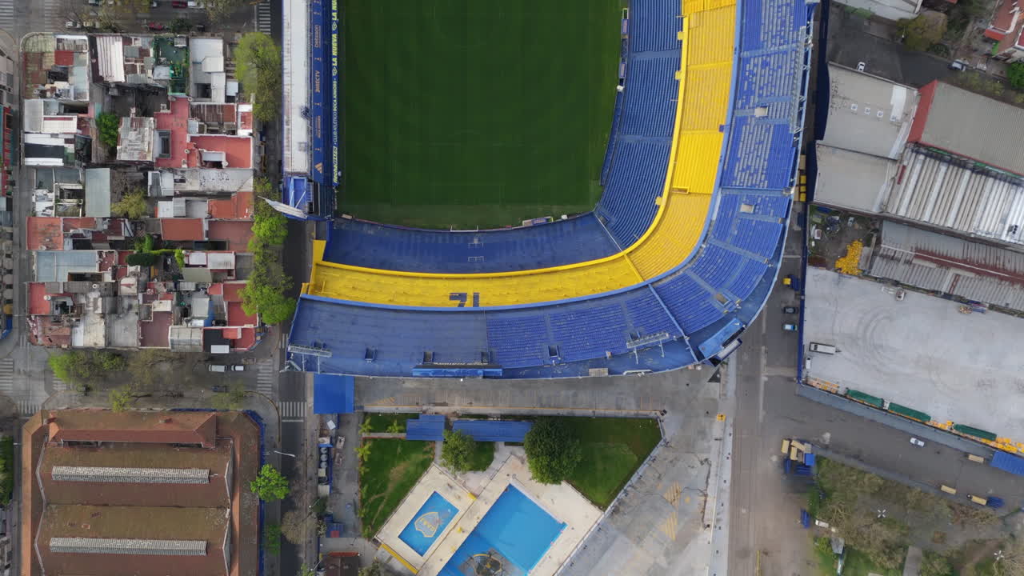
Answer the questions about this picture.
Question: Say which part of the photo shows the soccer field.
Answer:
top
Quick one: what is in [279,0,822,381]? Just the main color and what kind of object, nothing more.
blue stadium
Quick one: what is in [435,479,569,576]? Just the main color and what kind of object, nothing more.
blue swimming pool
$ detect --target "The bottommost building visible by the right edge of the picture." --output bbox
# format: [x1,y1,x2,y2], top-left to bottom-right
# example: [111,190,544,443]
[863,220,1024,317]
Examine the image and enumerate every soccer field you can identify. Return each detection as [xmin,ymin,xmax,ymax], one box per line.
[335,0,628,230]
